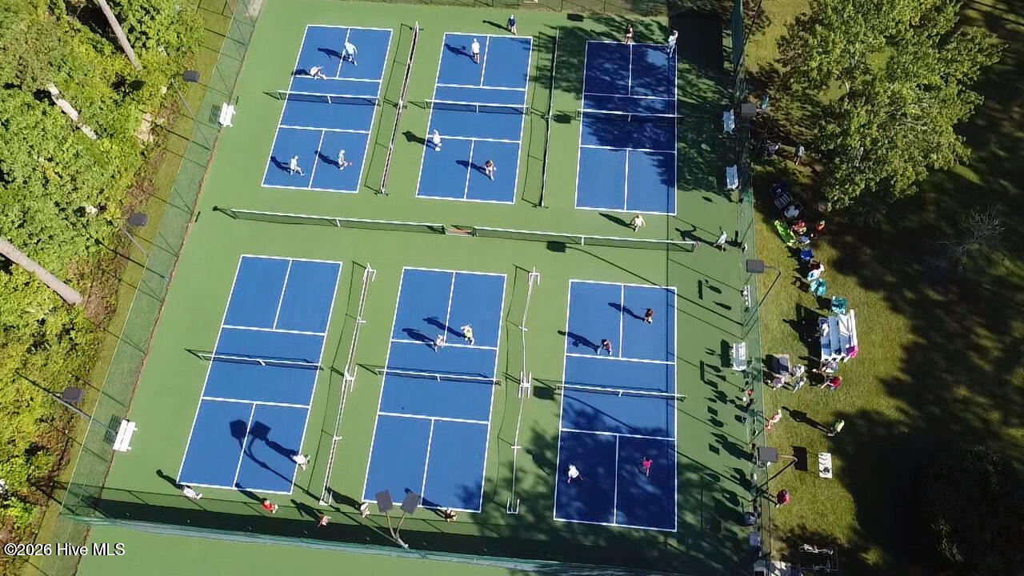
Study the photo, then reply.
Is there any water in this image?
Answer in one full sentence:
No, water can't be seen anywhere here.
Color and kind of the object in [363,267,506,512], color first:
blue sports court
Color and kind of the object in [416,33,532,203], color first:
blue sports court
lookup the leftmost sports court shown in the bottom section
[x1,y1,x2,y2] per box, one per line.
[178,255,342,494]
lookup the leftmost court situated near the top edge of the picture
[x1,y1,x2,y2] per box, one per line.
[262,25,392,192]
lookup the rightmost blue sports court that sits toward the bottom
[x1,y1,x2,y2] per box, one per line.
[554,280,676,531]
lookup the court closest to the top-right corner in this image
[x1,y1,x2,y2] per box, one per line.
[576,41,676,215]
